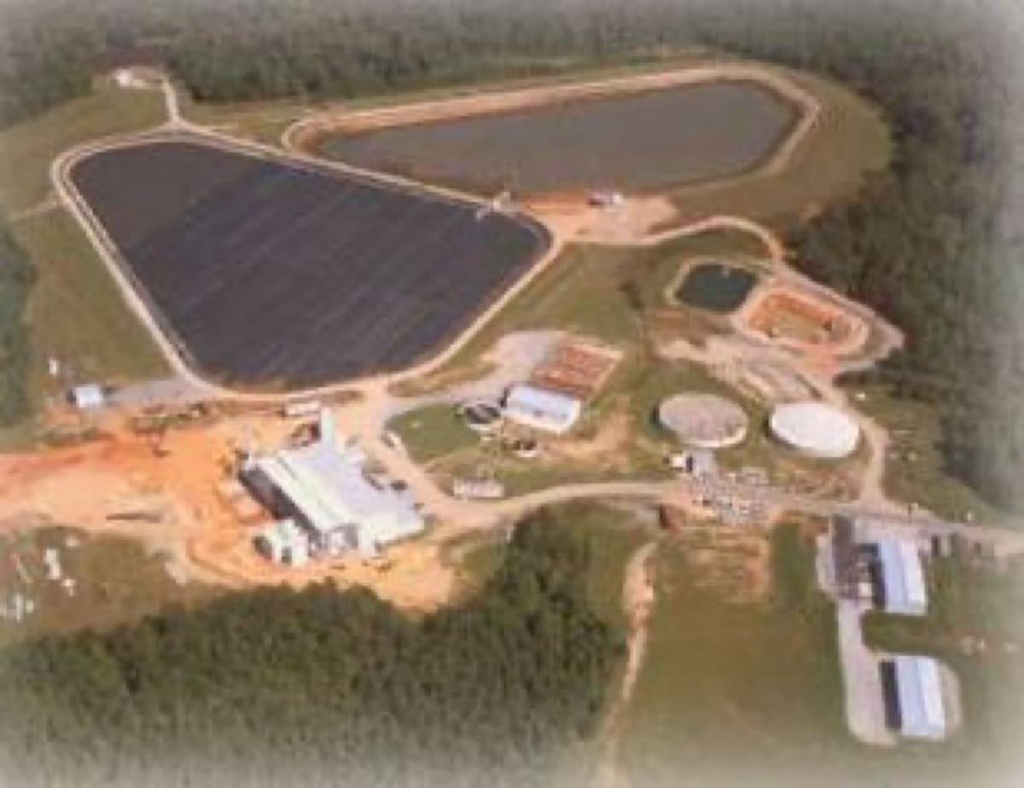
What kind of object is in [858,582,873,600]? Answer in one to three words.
vehicle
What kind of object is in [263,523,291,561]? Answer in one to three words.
shed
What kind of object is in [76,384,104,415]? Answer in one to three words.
shed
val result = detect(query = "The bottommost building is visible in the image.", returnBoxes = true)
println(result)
[895,653,945,744]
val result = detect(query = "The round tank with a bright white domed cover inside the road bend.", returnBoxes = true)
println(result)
[769,400,862,459]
